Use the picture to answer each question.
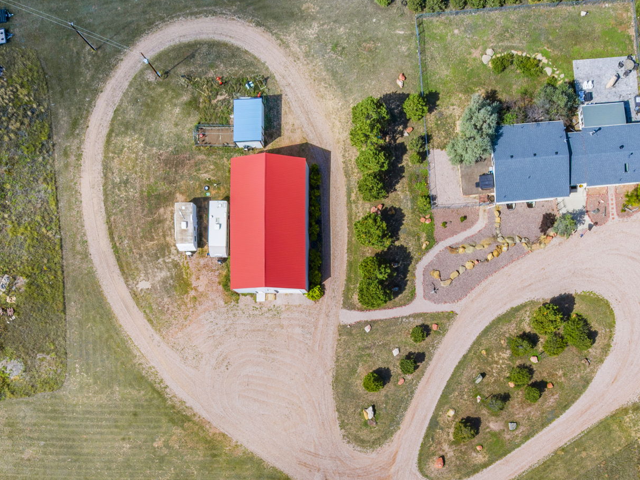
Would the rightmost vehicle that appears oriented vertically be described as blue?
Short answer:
No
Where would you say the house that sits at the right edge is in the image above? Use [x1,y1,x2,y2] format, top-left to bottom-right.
[490,102,640,207]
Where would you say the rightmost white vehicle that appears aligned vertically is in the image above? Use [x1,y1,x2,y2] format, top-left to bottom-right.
[209,201,230,269]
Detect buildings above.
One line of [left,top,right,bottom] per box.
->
[230,152,308,294]
[490,102,640,207]
[233,99,265,148]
